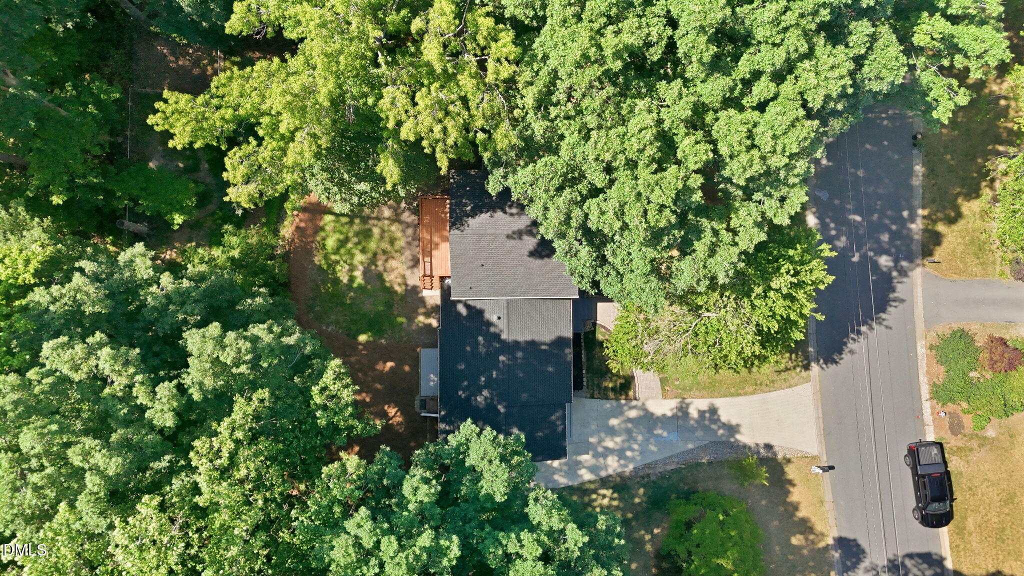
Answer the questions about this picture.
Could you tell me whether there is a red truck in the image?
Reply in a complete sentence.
No, I can't see a single red truck in this photo.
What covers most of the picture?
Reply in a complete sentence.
Most of the picture is covered by trees.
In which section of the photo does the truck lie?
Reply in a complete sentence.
The truck is located in the bottom right region of the scene.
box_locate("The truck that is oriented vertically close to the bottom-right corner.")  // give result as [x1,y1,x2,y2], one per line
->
[907,437,958,534]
